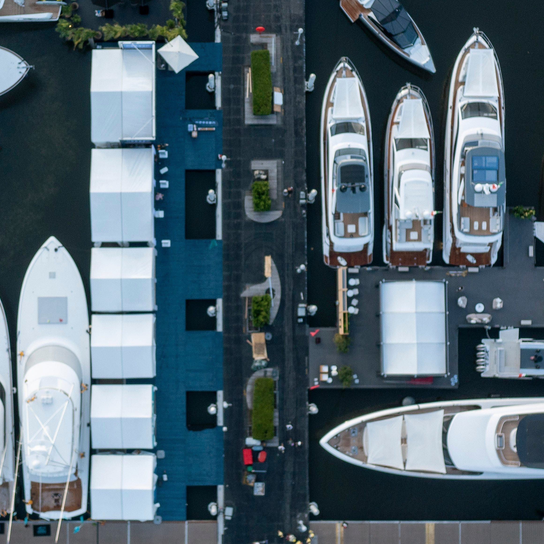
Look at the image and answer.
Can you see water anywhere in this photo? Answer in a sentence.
Yes, there's water in this view.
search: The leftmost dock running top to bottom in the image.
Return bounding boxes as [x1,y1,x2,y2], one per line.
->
[91,44,224,520]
